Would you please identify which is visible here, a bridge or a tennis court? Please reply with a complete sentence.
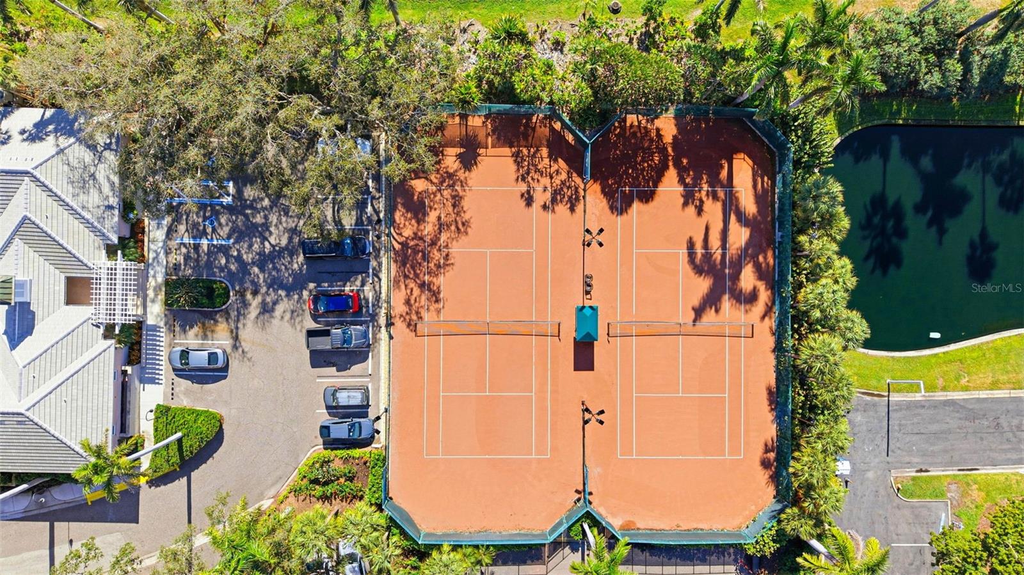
There is a tennis court in the scene.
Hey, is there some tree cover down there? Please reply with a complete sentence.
Yes, tree cover shows up in the scene.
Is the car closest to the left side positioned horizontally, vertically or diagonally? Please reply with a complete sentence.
What the image shows is the car closest to the left side lying horizontally.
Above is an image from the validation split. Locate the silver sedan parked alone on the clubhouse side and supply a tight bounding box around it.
[172,346,229,372]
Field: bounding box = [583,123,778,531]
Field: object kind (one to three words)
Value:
tennis court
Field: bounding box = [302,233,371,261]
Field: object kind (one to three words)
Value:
truck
